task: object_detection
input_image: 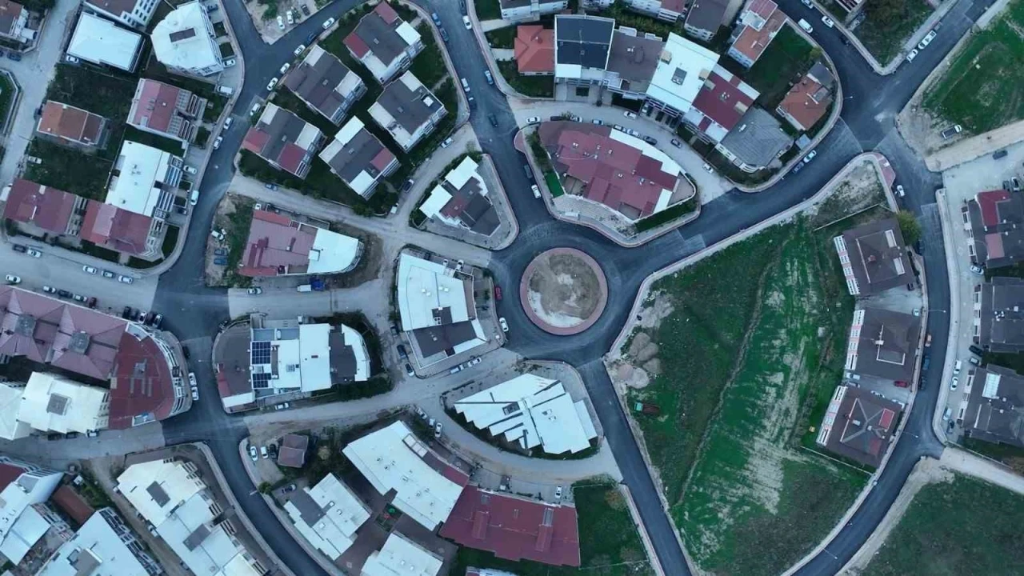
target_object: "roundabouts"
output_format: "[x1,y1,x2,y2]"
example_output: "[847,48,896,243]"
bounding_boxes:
[520,247,608,334]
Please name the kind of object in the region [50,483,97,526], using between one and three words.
shed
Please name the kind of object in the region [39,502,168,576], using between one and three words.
building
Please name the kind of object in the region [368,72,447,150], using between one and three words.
house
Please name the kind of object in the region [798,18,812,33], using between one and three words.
vehicle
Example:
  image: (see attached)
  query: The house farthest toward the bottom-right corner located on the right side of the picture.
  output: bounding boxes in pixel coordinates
[951,363,1024,447]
